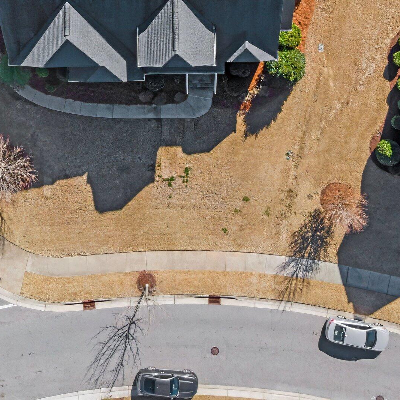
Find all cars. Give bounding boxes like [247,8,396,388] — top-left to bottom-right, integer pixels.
[323,314,390,353]
[136,364,201,400]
